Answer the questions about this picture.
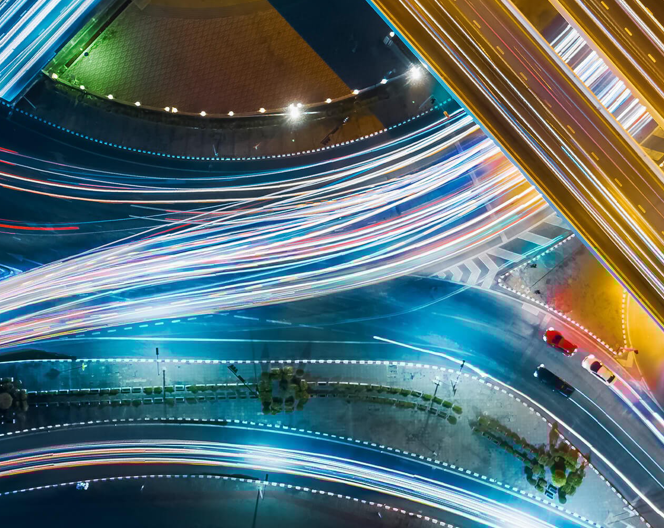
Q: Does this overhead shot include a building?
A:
No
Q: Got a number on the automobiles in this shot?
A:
3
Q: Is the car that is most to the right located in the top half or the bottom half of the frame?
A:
bottom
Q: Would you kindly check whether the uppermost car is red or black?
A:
red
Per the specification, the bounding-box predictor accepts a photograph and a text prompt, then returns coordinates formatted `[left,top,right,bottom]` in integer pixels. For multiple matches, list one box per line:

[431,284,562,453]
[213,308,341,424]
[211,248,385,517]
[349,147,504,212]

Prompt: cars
[584,354,619,384]
[545,327,580,356]
[537,364,575,397]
